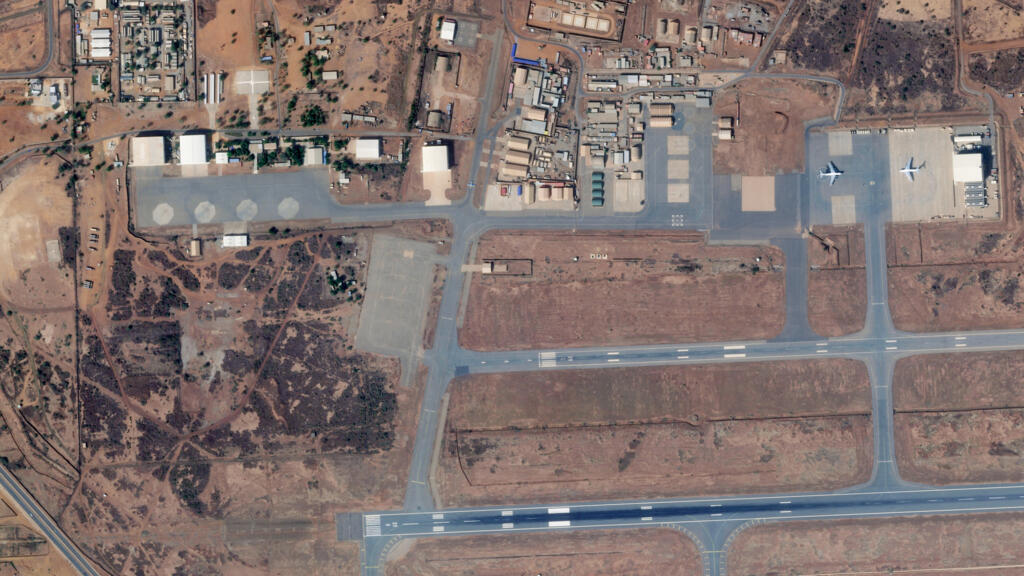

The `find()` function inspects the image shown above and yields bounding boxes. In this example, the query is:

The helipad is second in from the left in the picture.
[195,201,215,222]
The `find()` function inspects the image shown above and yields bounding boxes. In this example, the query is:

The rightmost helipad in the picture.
[278,198,299,218]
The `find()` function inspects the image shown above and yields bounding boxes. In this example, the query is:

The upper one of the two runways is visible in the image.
[444,330,1024,378]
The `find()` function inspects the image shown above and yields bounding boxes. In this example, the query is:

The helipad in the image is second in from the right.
[236,199,257,220]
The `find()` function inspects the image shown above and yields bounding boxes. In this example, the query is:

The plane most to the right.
[899,158,922,182]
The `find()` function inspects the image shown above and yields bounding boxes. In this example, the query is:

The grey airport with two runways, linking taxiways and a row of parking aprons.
[135,102,1024,576]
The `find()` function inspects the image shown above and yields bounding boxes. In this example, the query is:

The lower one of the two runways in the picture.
[362,483,1024,538]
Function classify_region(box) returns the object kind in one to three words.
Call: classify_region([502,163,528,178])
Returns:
building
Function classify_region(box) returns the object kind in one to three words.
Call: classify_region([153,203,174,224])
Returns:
helipad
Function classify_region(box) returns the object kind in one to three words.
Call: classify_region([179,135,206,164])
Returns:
hangar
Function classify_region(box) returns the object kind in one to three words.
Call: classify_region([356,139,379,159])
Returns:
hangar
